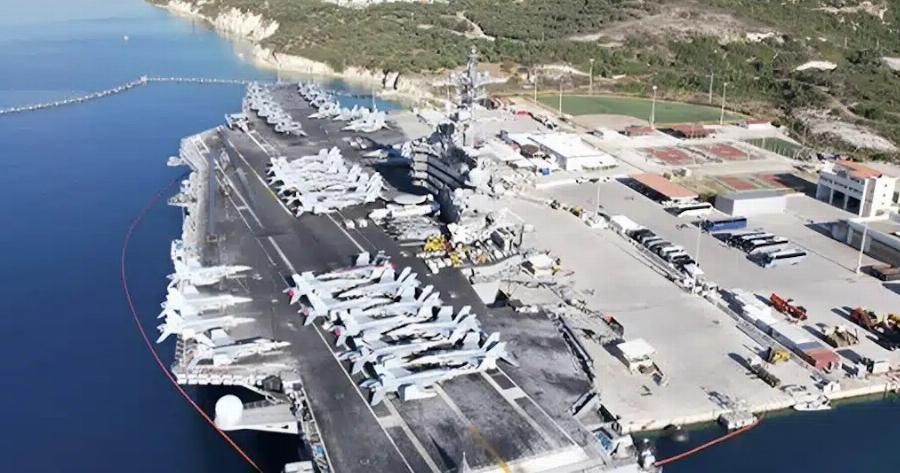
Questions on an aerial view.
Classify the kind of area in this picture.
port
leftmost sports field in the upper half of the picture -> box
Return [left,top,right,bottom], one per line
[521,91,745,131]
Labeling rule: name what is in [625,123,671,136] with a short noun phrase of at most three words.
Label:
shed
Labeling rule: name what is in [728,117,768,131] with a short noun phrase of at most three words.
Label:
shed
